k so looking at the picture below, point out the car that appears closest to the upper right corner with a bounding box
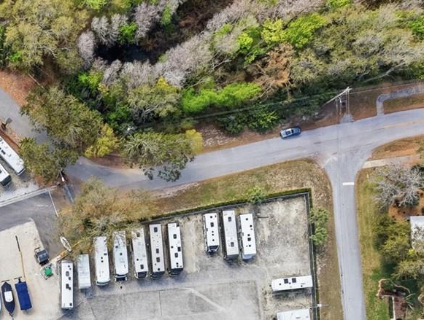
[278,126,300,139]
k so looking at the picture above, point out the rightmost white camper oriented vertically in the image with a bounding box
[236,213,255,262]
